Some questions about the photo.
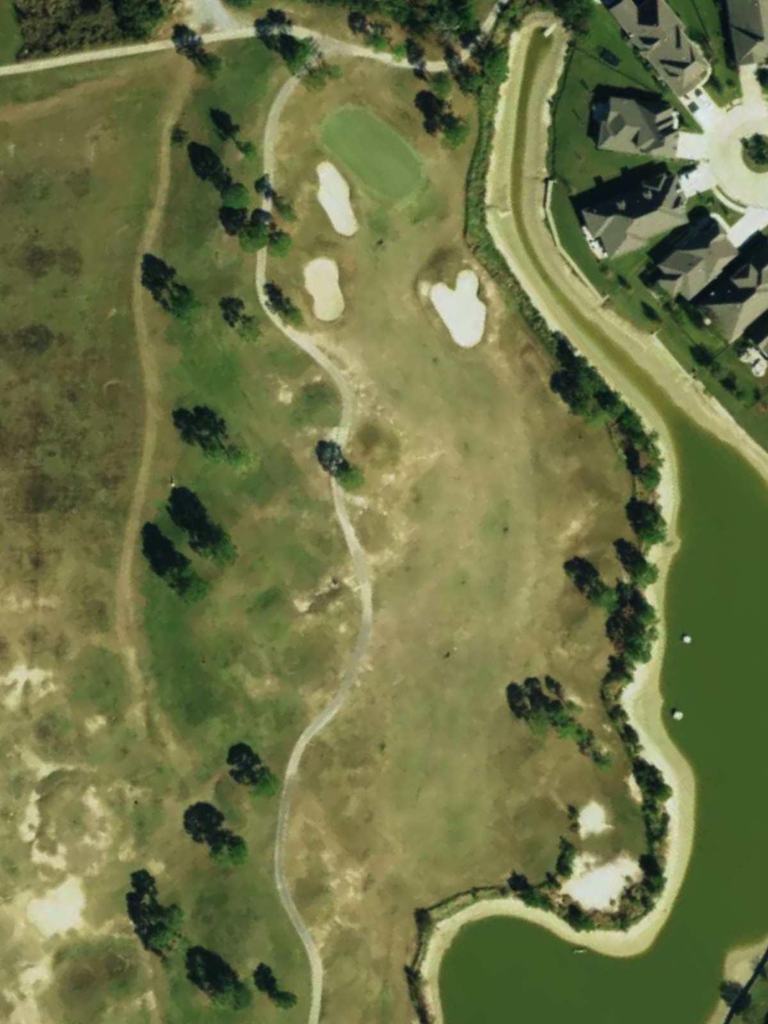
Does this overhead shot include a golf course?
Yes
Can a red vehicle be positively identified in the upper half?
No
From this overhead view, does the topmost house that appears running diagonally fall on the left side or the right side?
right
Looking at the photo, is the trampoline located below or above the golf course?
above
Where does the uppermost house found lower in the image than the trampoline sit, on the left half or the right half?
right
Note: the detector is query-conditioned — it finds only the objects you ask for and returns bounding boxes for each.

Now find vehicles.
[700,96,717,115]
[694,110,713,131]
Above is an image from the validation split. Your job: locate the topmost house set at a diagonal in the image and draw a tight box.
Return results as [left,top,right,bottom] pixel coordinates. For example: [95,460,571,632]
[602,0,712,98]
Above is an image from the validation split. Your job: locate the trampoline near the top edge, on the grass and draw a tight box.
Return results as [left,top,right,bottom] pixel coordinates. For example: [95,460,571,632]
[601,47,623,67]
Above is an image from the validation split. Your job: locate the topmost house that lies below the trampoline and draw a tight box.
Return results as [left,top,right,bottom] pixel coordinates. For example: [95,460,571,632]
[598,96,683,158]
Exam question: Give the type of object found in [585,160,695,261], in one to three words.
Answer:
house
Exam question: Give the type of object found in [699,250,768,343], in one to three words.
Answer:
house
